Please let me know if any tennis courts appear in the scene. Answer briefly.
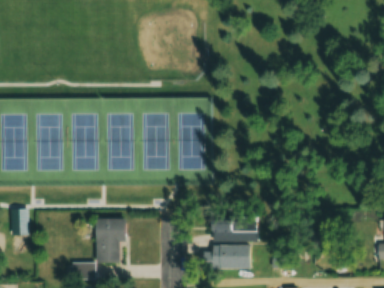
Yes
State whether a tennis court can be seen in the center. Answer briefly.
Yes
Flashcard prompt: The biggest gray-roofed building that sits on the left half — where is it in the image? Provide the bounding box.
[96,219,126,264]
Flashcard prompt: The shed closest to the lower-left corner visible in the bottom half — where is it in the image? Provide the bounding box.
[10,210,29,236]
